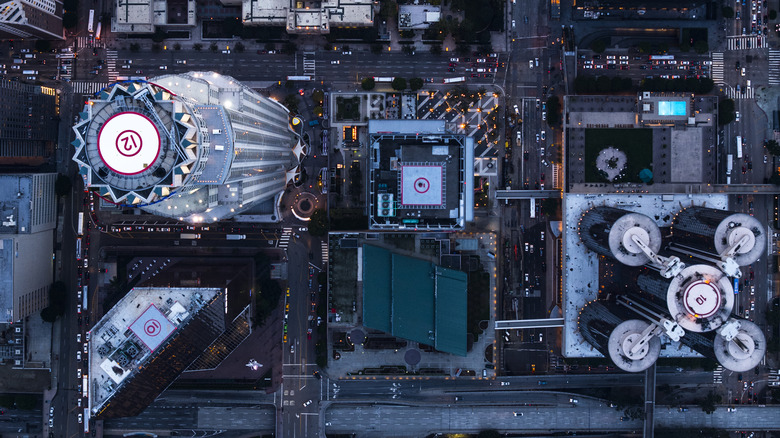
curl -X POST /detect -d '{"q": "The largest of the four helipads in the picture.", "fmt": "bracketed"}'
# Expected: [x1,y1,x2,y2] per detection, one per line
[98,112,161,174]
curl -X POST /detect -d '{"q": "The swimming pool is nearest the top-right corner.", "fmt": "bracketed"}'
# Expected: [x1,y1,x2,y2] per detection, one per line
[659,101,686,116]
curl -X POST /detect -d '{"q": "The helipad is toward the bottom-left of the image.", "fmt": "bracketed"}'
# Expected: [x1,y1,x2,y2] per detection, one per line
[128,302,178,353]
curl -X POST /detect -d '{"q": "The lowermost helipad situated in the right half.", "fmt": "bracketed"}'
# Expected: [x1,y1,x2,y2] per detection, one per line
[685,280,722,317]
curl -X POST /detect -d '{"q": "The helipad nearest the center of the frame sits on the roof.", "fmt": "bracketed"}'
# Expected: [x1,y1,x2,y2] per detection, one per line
[397,161,447,209]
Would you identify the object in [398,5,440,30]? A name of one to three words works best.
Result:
building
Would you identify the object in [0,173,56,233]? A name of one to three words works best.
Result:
building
